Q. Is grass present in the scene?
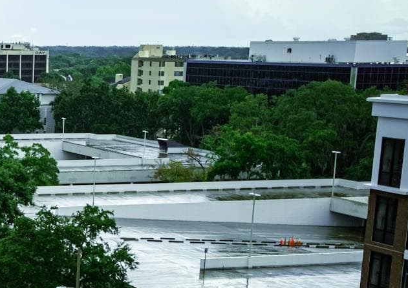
No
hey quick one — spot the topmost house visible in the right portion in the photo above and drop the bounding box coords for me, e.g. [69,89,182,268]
[248,32,408,63]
